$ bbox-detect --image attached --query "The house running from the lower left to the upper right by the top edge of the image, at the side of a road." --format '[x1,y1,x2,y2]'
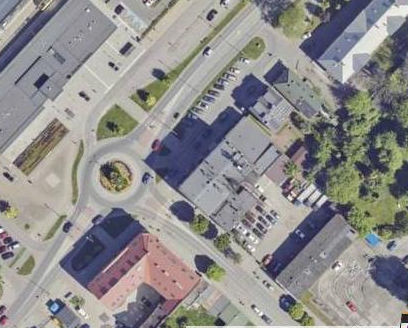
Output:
[318,0,408,82]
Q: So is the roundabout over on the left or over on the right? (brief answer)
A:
left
